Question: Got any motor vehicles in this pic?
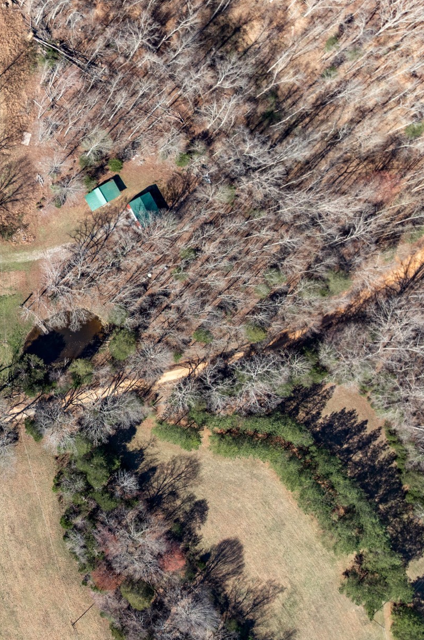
No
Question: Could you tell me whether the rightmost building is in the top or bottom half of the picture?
top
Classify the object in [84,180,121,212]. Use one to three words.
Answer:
shed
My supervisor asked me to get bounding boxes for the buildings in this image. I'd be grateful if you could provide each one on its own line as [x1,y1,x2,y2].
[84,180,121,212]
[127,192,164,231]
